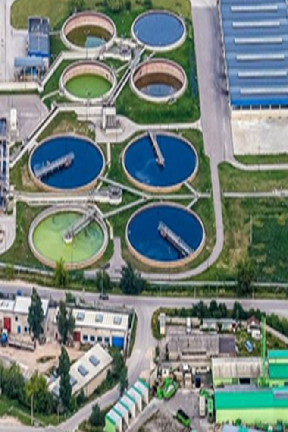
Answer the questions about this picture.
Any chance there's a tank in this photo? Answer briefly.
Yes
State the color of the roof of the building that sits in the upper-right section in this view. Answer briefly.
blue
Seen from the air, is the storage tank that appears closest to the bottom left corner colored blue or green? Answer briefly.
green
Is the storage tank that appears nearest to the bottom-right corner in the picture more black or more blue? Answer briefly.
blue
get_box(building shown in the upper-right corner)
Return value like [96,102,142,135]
[216,0,288,116]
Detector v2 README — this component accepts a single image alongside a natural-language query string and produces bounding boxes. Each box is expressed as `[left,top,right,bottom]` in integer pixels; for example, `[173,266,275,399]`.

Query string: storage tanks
[28,131,105,192]
[122,129,198,190]
[129,57,188,102]
[58,57,118,103]
[27,201,108,269]
[125,199,206,266]
[131,8,187,51]
[60,10,116,52]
